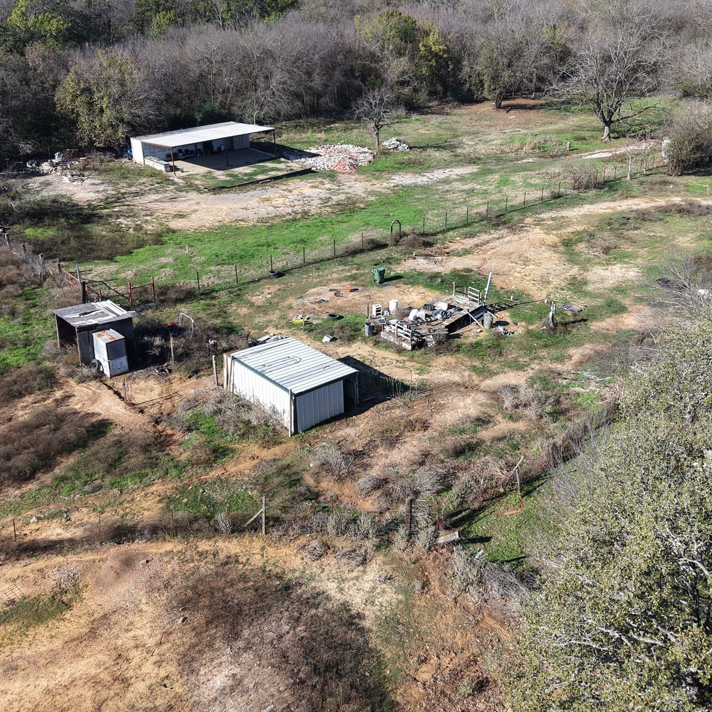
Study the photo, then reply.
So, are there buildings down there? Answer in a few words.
Yes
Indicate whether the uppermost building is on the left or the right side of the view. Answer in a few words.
left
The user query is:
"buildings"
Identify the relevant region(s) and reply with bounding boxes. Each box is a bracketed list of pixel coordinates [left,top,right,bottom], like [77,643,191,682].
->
[45,296,137,368]
[134,117,278,177]
[209,331,362,443]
